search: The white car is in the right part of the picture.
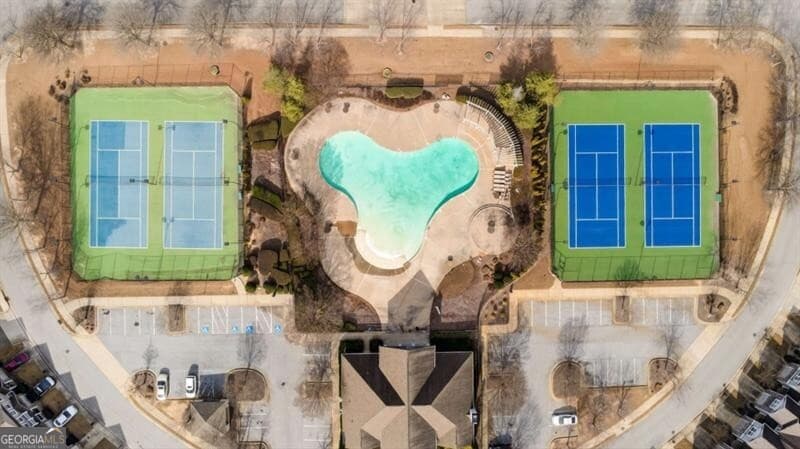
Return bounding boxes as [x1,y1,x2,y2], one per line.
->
[552,412,578,425]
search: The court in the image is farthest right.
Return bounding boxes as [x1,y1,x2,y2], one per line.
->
[635,90,717,280]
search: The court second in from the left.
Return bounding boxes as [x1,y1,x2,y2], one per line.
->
[156,86,241,280]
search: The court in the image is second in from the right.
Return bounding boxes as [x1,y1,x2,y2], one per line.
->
[551,90,635,281]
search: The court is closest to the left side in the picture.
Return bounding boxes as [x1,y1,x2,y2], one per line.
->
[70,87,156,280]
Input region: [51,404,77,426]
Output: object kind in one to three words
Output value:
car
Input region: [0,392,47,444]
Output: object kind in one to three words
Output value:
house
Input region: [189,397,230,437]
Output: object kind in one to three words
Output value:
building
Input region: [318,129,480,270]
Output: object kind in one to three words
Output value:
swimming pool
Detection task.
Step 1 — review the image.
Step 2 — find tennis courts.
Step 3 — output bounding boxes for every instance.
[70,87,156,280]
[551,90,635,281]
[156,86,241,280]
[635,90,717,280]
